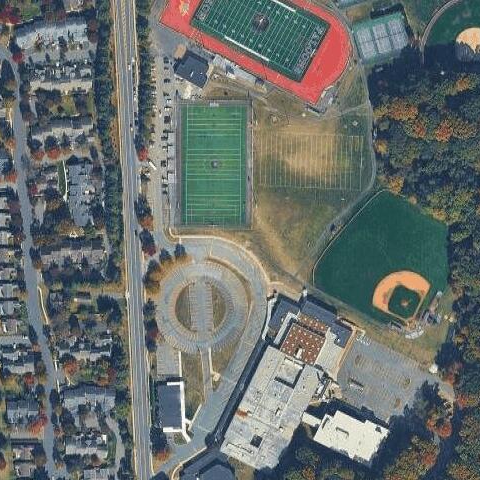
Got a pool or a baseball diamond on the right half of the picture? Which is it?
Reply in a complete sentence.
There is a baseball diamond on the right half of the picture.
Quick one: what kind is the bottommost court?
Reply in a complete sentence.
What you see as the bottommost court is a tennis court.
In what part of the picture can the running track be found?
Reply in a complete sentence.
You can find the running track in the top area of the picture.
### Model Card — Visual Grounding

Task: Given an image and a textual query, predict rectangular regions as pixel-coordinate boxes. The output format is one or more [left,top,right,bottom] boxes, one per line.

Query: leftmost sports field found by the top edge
[190,0,330,82]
